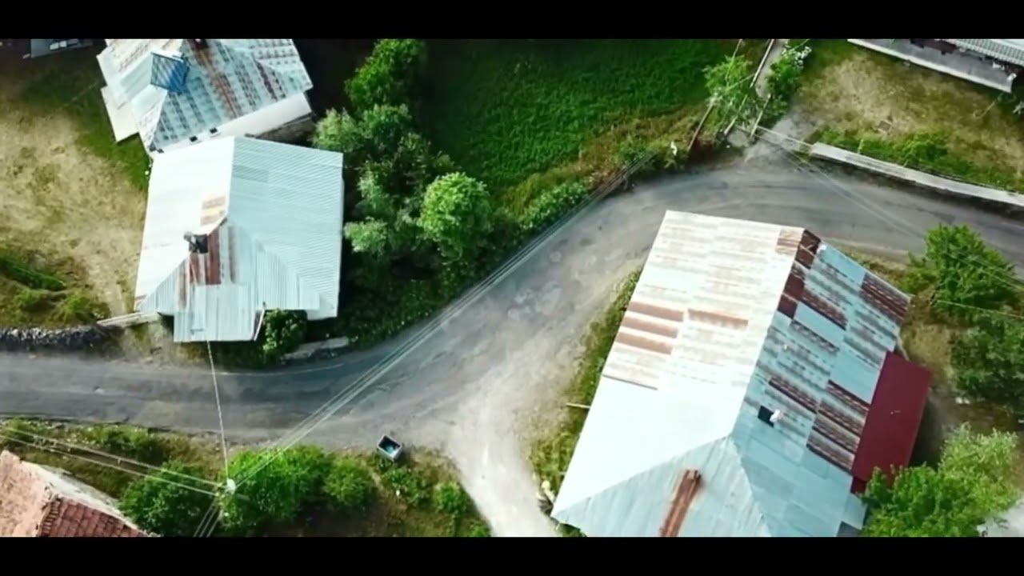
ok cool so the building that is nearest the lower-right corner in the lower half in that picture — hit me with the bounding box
[552,210,931,576]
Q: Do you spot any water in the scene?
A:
No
